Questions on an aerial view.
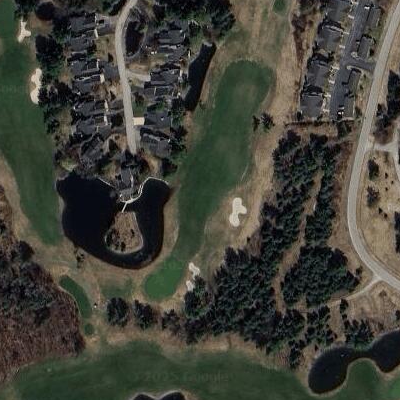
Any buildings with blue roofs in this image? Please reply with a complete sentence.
No, the scene contains no building with a blue roof.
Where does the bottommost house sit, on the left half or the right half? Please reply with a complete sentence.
The bottommost house sits on the left side.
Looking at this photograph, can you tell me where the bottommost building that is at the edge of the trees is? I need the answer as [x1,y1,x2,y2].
[117,157,138,197]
